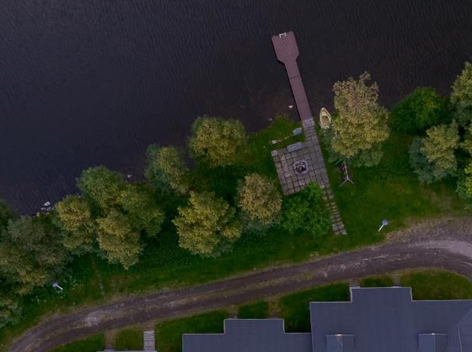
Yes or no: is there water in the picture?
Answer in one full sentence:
Yes, water can be seen from above here.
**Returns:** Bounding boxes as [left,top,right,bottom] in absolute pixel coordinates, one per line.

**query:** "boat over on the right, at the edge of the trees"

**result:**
[318,107,331,129]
